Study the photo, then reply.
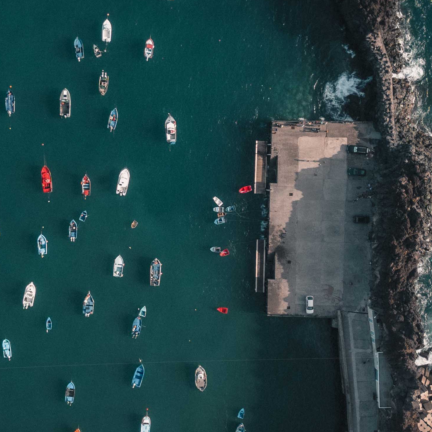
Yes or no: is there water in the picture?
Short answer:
Yes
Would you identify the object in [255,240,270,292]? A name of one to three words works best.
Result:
pier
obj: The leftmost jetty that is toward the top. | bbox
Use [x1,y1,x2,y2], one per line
[254,141,269,194]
